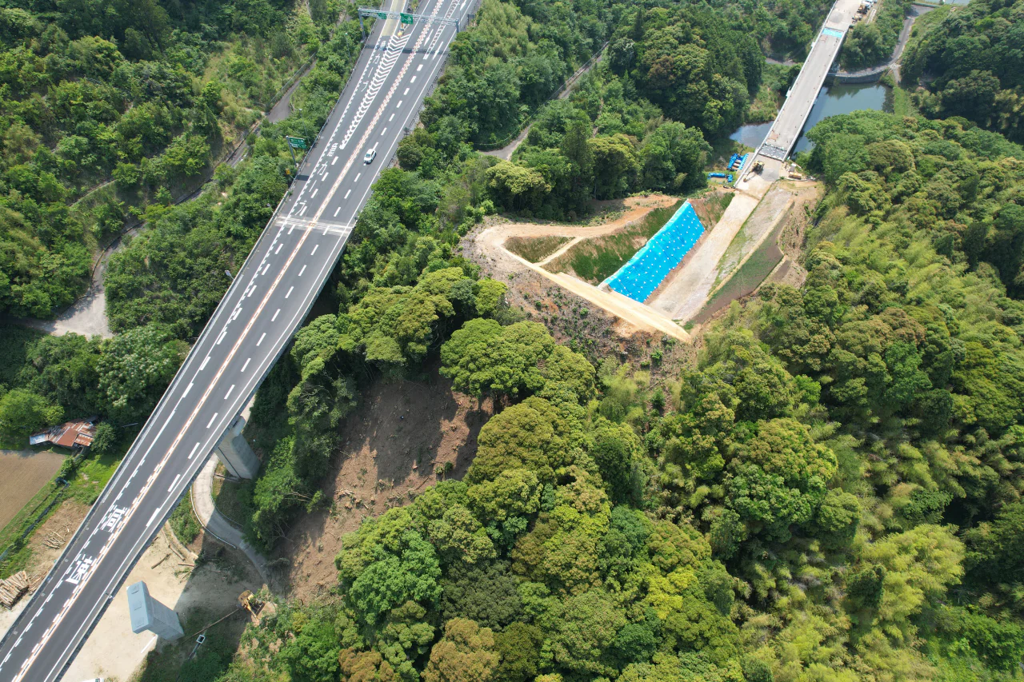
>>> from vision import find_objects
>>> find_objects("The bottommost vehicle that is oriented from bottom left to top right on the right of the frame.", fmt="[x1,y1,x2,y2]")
[745,157,766,180]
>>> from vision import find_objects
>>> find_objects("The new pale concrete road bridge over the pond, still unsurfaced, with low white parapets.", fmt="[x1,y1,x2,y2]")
[737,0,848,192]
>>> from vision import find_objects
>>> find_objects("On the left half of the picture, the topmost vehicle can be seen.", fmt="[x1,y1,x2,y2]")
[361,147,376,163]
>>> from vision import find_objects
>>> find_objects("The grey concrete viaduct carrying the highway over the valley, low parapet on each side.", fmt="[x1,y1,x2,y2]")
[0,237,353,682]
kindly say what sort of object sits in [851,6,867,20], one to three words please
vehicle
